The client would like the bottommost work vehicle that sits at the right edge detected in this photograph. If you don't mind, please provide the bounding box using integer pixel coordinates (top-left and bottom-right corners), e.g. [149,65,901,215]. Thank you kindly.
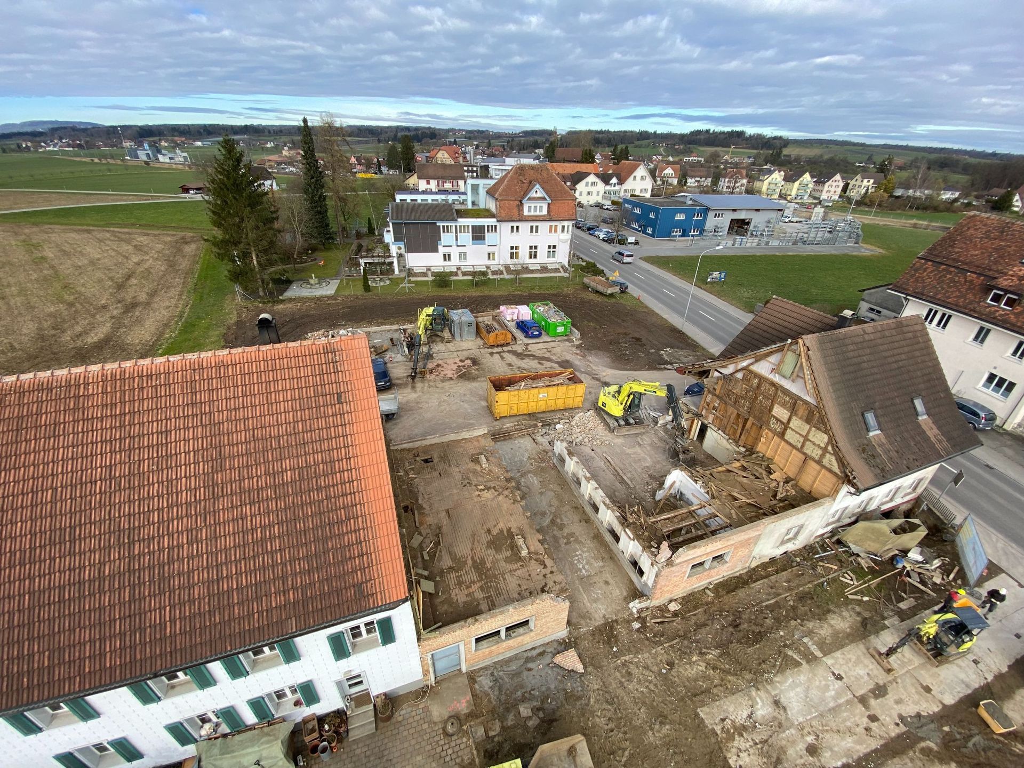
[878,598,1001,684]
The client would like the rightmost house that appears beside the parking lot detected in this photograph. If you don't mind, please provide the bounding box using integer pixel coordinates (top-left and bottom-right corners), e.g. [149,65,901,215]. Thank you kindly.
[870,211,1024,425]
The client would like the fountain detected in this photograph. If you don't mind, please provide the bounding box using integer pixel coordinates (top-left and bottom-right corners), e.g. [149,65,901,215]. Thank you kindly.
[294,269,333,290]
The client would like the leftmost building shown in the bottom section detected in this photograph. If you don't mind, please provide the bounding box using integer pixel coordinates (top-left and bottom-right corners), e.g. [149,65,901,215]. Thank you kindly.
[0,311,422,768]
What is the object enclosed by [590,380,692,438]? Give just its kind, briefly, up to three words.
work vehicle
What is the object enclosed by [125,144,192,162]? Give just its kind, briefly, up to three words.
building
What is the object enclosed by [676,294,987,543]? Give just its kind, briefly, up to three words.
house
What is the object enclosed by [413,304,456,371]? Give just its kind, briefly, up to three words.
work vehicle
